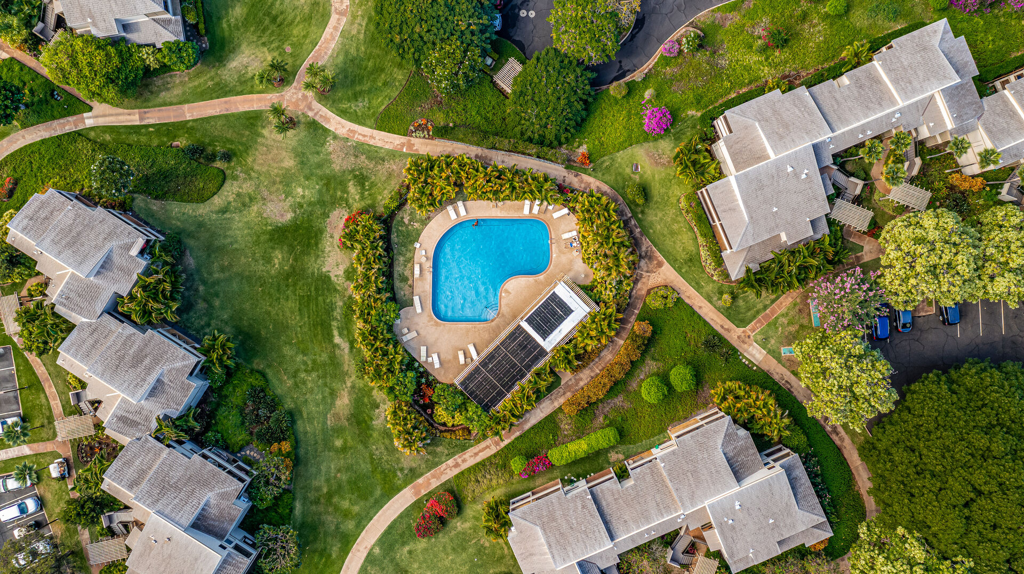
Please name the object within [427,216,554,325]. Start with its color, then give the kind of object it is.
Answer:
blue swimming pool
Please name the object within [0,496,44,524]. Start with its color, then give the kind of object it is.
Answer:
white car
